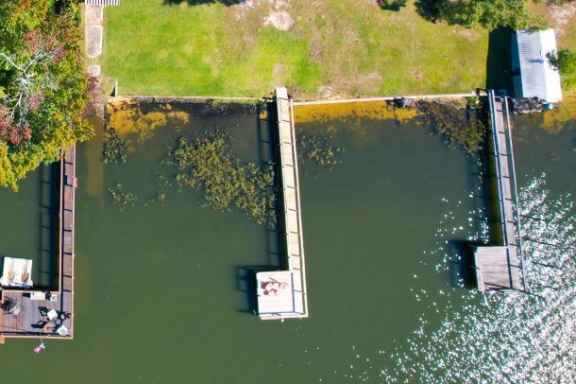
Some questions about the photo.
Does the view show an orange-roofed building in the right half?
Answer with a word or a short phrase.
No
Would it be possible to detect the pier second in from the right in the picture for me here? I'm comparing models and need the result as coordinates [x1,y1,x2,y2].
[253,87,310,319]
